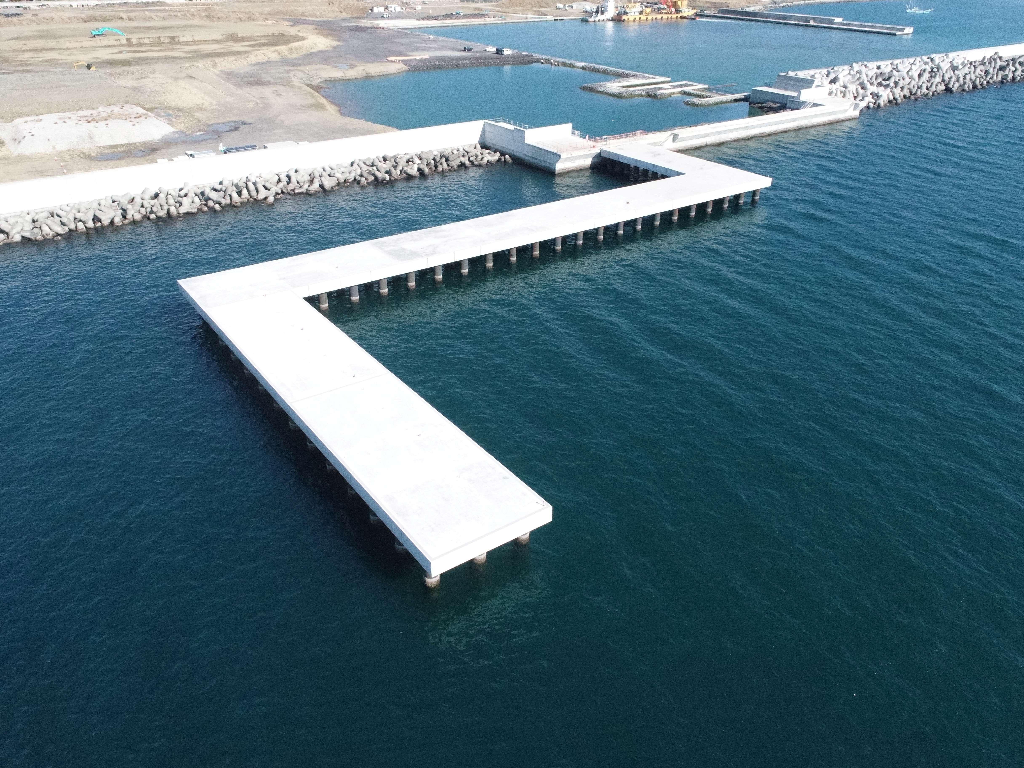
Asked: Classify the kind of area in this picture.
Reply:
port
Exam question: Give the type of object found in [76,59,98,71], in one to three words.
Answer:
vehicle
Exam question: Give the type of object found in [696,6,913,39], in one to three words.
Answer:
pier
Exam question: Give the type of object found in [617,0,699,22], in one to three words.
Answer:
ship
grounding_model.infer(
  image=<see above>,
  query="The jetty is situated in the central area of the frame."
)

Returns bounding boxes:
[178,143,772,587]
